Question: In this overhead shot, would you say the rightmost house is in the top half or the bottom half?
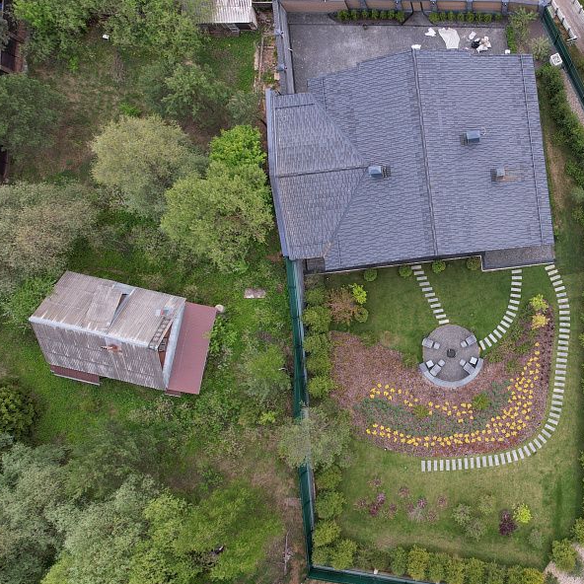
top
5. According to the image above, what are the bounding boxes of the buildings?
[265,43,555,276]
[199,0,262,33]
[28,272,218,402]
